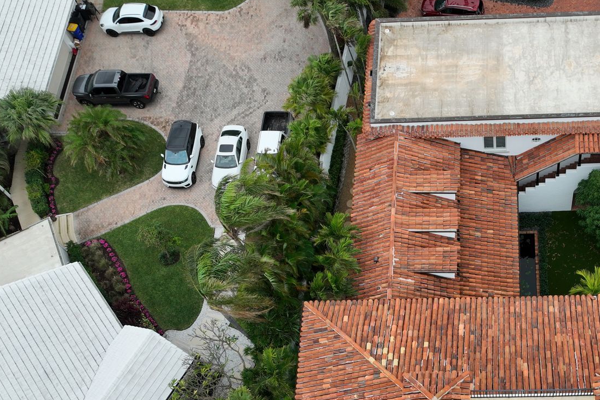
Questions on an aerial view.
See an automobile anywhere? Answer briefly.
Yes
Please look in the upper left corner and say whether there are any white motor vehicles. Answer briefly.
Yes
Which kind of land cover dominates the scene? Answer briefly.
buildings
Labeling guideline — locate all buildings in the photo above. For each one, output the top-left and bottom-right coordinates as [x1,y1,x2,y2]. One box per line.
[293,10,600,400]
[0,217,205,400]
[0,0,89,129]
